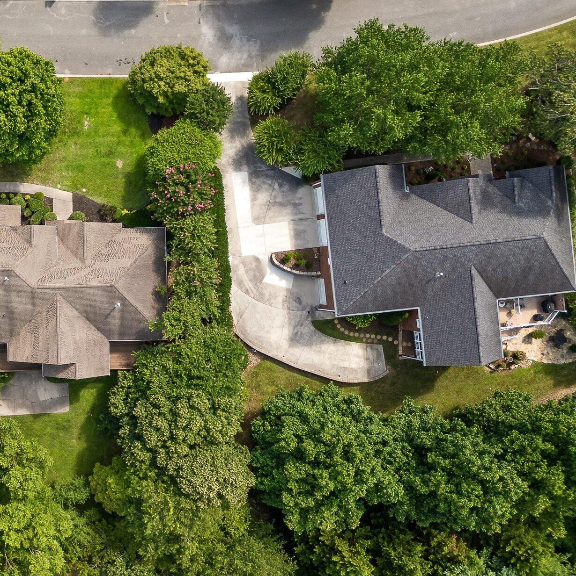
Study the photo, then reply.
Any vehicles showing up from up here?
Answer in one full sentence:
No, there appears to be no vehicle in this shot.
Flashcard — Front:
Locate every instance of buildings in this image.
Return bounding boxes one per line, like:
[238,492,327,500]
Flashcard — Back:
[312,164,576,367]
[0,203,168,379]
